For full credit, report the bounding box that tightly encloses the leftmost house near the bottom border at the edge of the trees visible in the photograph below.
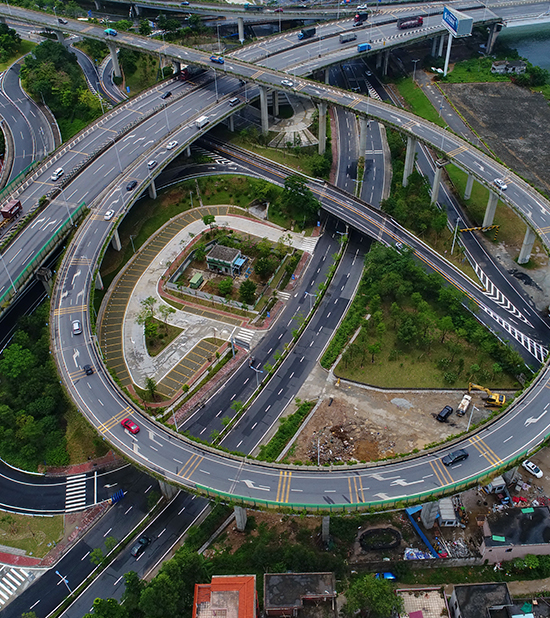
[192,574,258,618]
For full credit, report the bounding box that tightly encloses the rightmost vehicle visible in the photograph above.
[520,460,545,477]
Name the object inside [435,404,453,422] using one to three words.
car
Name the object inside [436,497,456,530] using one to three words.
shed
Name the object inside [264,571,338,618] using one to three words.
house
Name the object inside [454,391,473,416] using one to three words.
vehicle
